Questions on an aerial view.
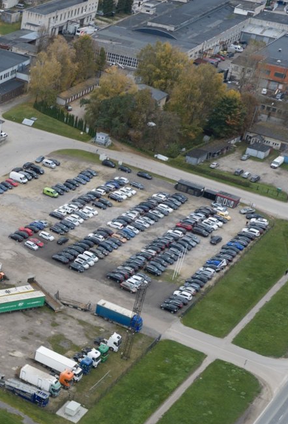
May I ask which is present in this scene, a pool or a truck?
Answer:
truck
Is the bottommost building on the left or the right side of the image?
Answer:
left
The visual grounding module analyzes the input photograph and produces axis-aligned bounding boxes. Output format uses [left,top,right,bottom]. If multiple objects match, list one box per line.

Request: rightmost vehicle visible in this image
[272,154,285,167]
